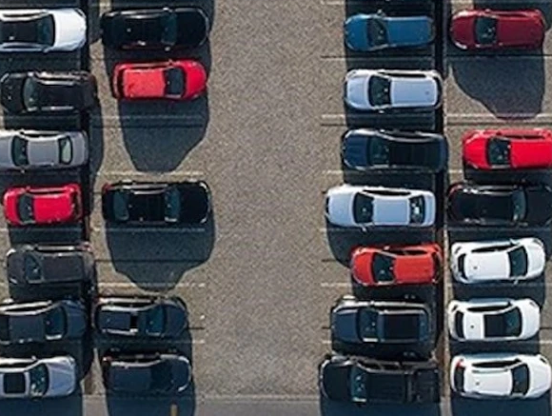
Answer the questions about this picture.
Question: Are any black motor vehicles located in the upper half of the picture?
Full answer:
Yes, you'll find a black motor vehicle in the upper half of the picture.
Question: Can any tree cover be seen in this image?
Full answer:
No, there is no tree cover in the image.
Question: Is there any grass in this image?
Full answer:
No, the picture contains no grass.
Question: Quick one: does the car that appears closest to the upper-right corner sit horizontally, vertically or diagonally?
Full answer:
The car that appears closest to the upper-right corner runs horizontally in the image.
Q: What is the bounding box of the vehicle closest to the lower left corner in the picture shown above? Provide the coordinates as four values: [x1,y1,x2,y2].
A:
[0,352,80,405]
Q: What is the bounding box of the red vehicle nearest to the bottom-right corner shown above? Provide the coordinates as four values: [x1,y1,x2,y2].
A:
[349,241,445,292]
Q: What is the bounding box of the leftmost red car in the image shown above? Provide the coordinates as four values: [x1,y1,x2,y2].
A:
[2,183,83,231]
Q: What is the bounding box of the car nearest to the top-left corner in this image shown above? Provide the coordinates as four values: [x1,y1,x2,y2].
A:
[0,6,88,55]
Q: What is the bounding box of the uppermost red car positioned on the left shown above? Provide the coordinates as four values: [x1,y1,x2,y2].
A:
[111,58,208,107]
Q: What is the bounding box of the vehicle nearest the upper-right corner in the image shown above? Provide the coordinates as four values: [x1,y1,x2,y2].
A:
[448,7,550,53]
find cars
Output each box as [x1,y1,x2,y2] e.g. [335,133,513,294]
[0,352,80,405]
[100,6,209,53]
[0,6,88,55]
[0,298,87,349]
[324,184,437,233]
[339,128,450,176]
[448,7,550,53]
[101,181,212,228]
[330,300,433,352]
[6,241,98,294]
[344,67,444,115]
[2,183,83,231]
[343,7,438,56]
[349,241,445,292]
[101,352,193,403]
[448,353,552,406]
[111,58,208,107]
[460,128,552,177]
[445,296,542,347]
[448,238,547,288]
[446,183,552,234]
[0,130,88,176]
[0,70,98,120]
[93,295,189,348]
